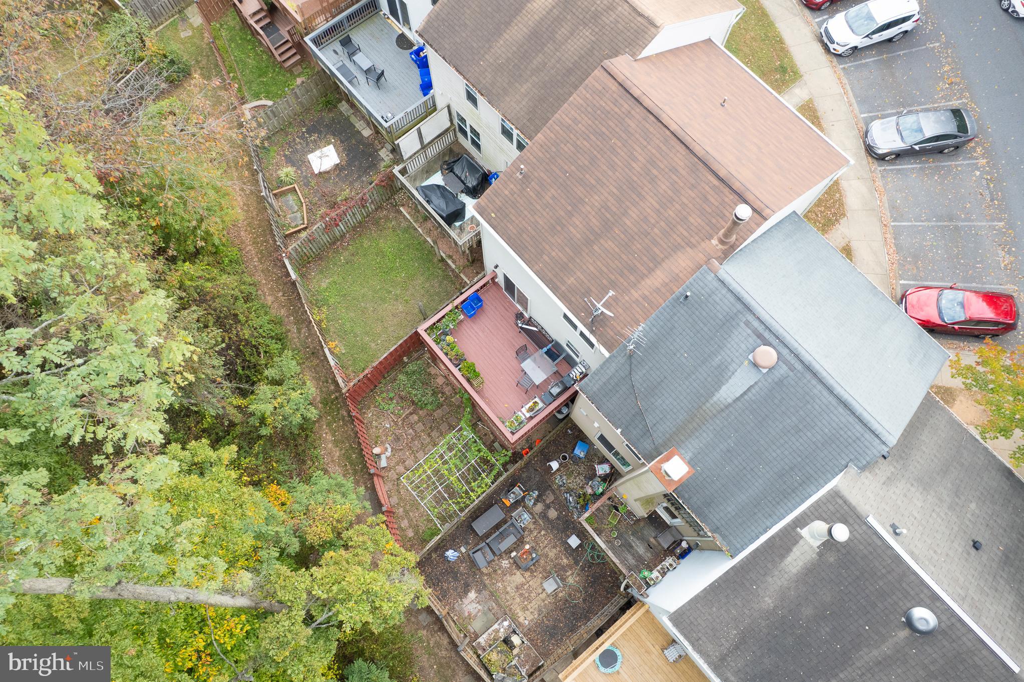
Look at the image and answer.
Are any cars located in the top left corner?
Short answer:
No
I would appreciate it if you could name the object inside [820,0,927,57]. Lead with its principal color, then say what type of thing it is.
white car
